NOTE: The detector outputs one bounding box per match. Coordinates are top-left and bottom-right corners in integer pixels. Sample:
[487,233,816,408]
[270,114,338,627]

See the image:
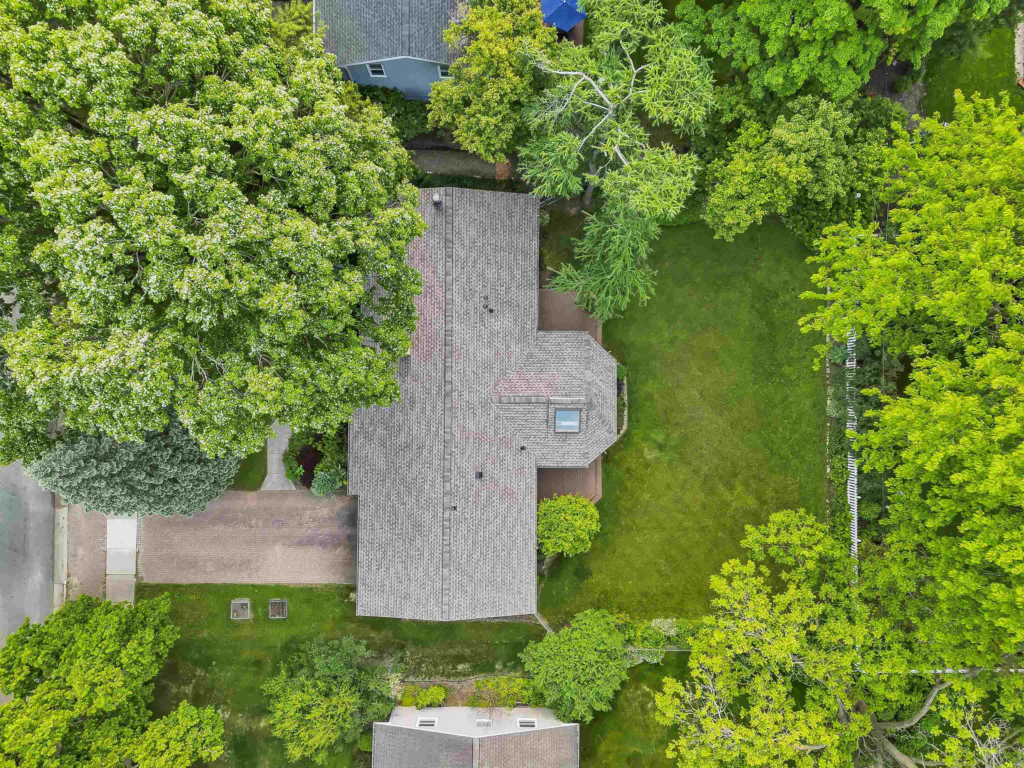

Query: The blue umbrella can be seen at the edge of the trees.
[543,0,587,37]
